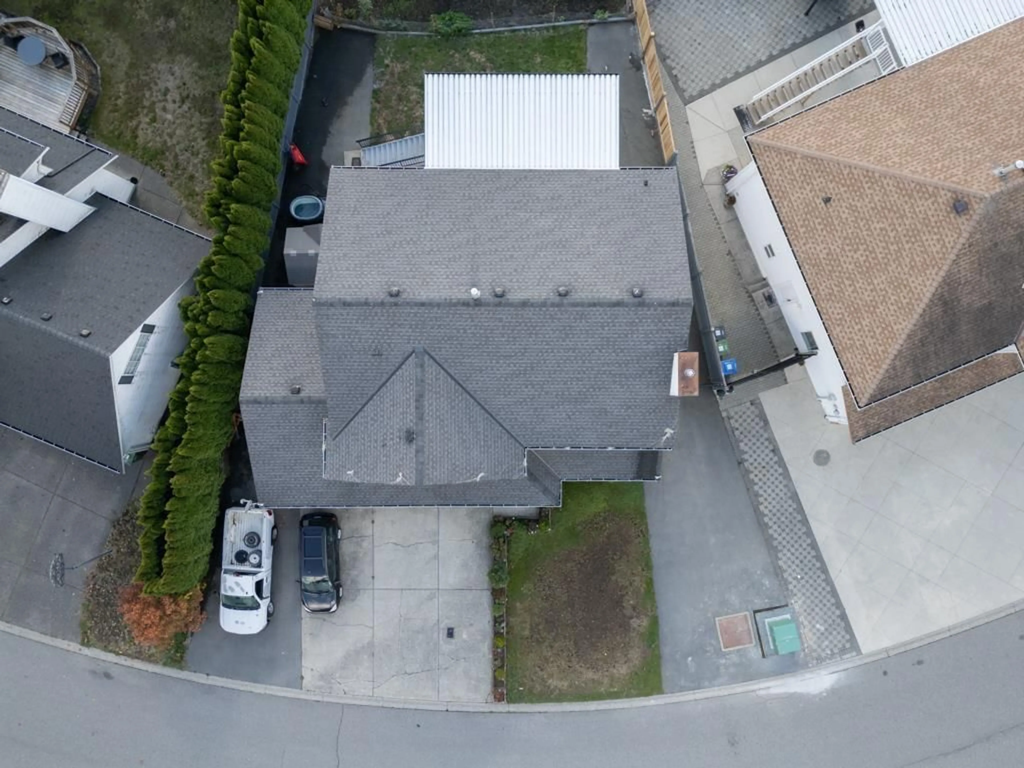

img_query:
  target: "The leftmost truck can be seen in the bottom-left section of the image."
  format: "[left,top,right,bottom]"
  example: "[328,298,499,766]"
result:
[219,500,279,635]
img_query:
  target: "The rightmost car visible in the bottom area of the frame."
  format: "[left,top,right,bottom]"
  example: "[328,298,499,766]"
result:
[293,510,345,613]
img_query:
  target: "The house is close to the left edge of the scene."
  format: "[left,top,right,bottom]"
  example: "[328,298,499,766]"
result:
[0,103,217,475]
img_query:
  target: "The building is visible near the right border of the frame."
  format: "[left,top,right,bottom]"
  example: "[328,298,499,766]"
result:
[727,0,1024,446]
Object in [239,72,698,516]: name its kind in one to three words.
house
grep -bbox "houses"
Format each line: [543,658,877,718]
[239,72,698,516]
[727,0,1024,446]
[0,103,217,475]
